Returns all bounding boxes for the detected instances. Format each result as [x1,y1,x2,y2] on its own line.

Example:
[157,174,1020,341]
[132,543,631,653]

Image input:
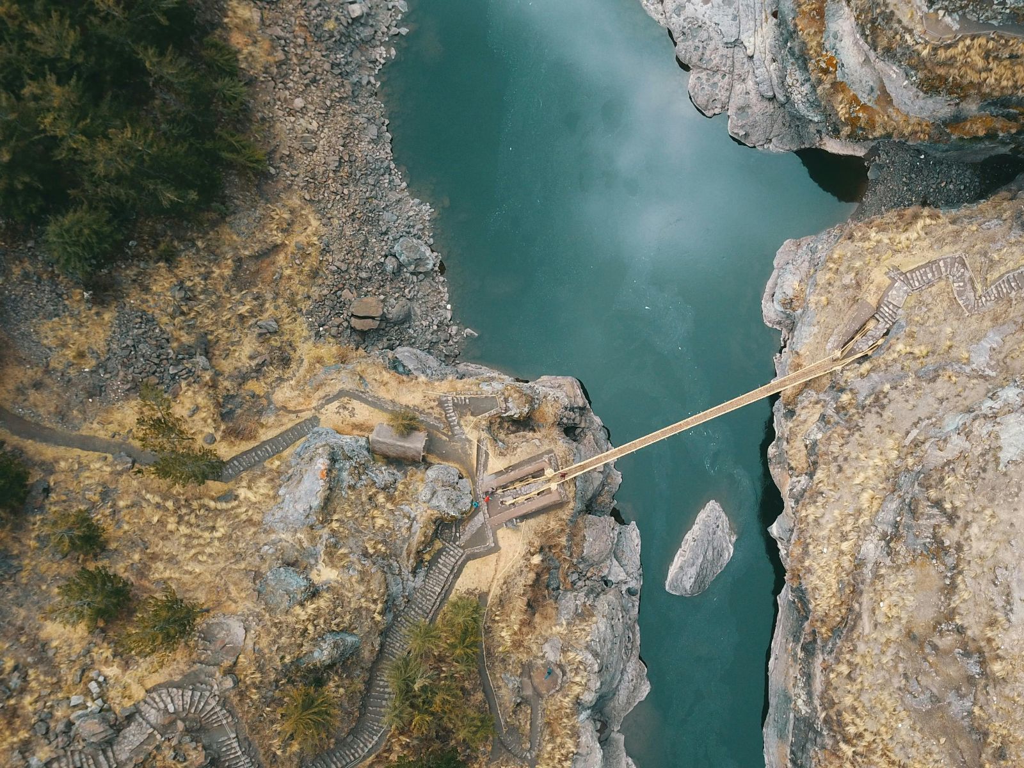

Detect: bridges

[496,317,876,505]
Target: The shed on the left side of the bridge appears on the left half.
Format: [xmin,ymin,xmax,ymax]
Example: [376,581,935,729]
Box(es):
[370,423,427,463]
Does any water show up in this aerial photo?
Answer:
Yes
